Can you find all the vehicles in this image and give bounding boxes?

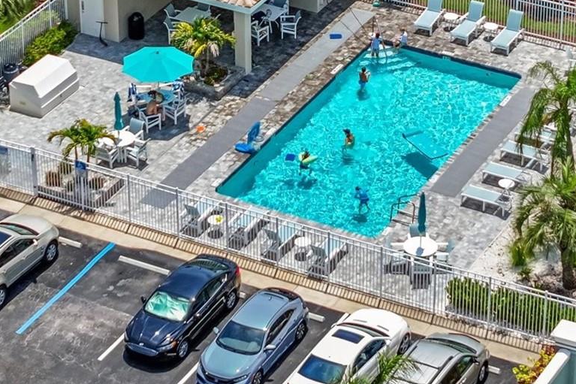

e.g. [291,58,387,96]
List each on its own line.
[118,252,243,362]
[0,213,65,306]
[389,323,493,384]
[297,301,416,384]
[194,283,311,384]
